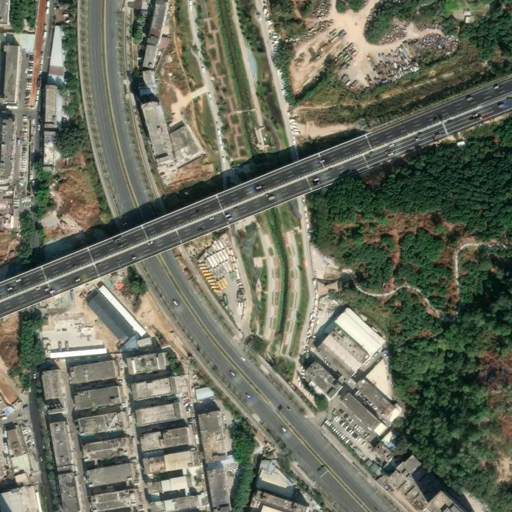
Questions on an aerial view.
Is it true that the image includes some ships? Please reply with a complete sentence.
No, the picture doesn't show any ship.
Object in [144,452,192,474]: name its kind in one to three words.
building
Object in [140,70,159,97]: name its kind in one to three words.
shed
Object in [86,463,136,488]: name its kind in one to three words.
building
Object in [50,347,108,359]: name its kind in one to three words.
shed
